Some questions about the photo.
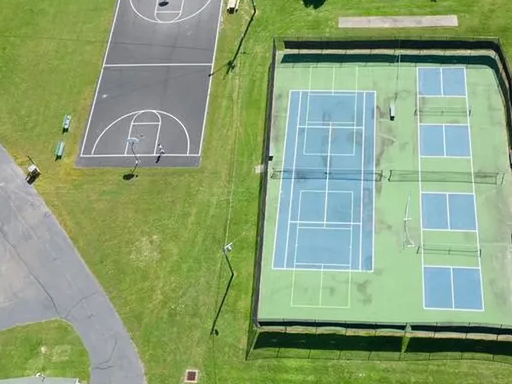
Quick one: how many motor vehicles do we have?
0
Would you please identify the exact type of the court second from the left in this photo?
tennis court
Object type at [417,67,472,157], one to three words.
sports court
